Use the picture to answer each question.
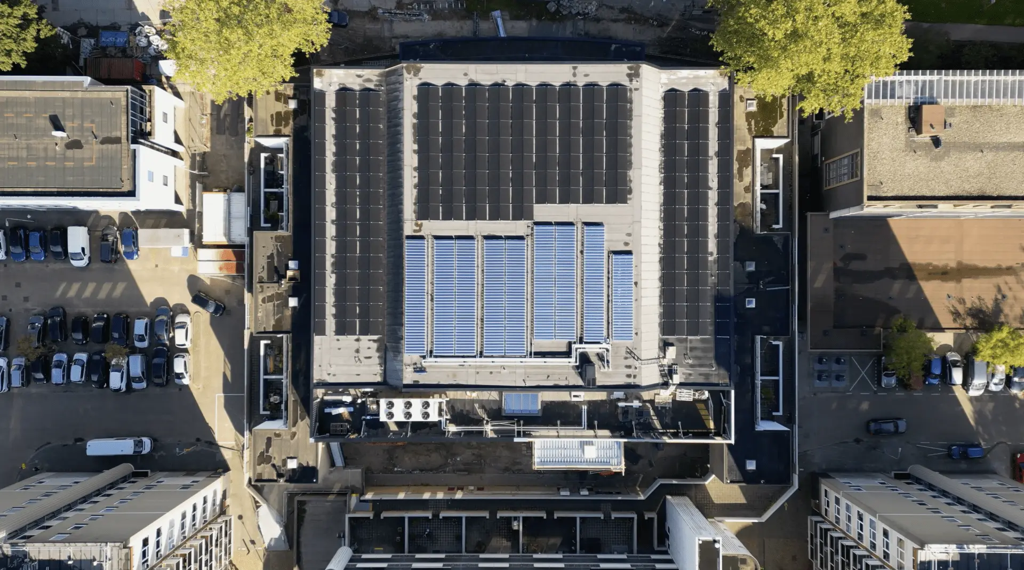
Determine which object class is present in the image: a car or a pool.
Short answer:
car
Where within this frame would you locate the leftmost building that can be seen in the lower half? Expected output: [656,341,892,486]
[0,461,237,570]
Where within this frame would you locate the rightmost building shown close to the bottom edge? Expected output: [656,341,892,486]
[805,461,1024,570]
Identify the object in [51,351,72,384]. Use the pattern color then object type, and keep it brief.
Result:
blue car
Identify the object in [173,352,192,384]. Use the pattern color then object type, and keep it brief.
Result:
white car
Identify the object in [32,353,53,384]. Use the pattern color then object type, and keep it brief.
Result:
black car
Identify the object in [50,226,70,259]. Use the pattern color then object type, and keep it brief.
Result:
black car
